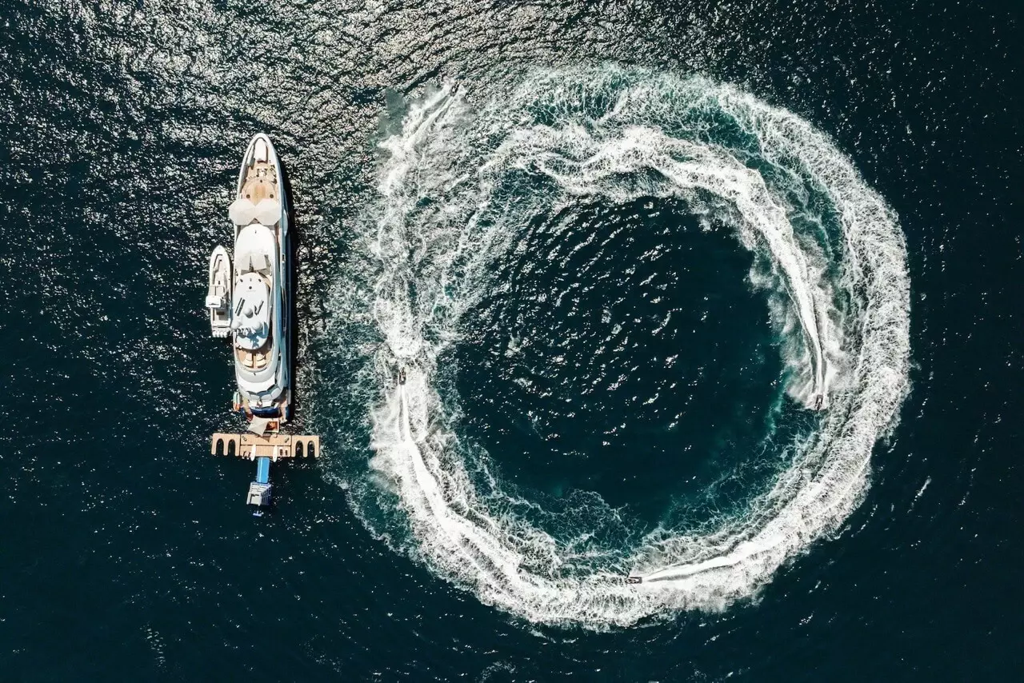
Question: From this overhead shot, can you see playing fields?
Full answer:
No, the scene contains no playing field.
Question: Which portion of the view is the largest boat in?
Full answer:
The largest boat sits in the left section of the image.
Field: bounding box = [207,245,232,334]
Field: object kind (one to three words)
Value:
boat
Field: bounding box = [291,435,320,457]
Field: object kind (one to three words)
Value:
pier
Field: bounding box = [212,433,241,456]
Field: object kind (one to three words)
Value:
pier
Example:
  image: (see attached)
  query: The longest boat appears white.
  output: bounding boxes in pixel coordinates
[234,132,293,432]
